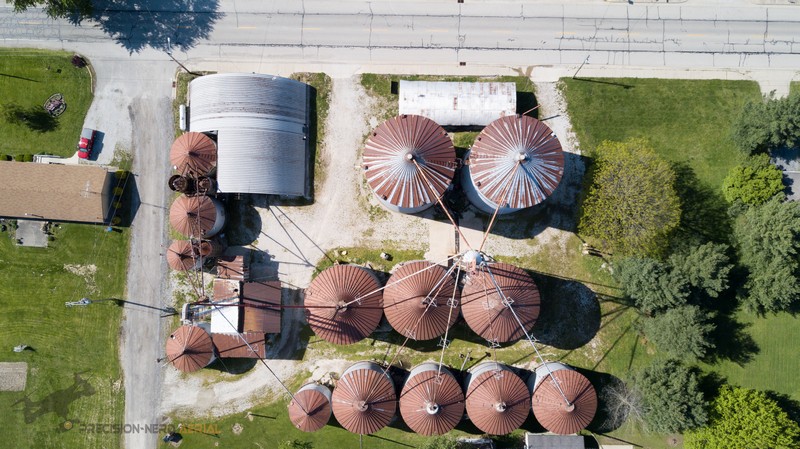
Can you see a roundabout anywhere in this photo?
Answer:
No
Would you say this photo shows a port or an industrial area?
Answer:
industrial area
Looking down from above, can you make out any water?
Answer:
No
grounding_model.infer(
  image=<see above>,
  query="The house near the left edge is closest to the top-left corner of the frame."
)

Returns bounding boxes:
[0,162,113,223]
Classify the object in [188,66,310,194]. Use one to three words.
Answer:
barn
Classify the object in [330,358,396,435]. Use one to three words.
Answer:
silo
